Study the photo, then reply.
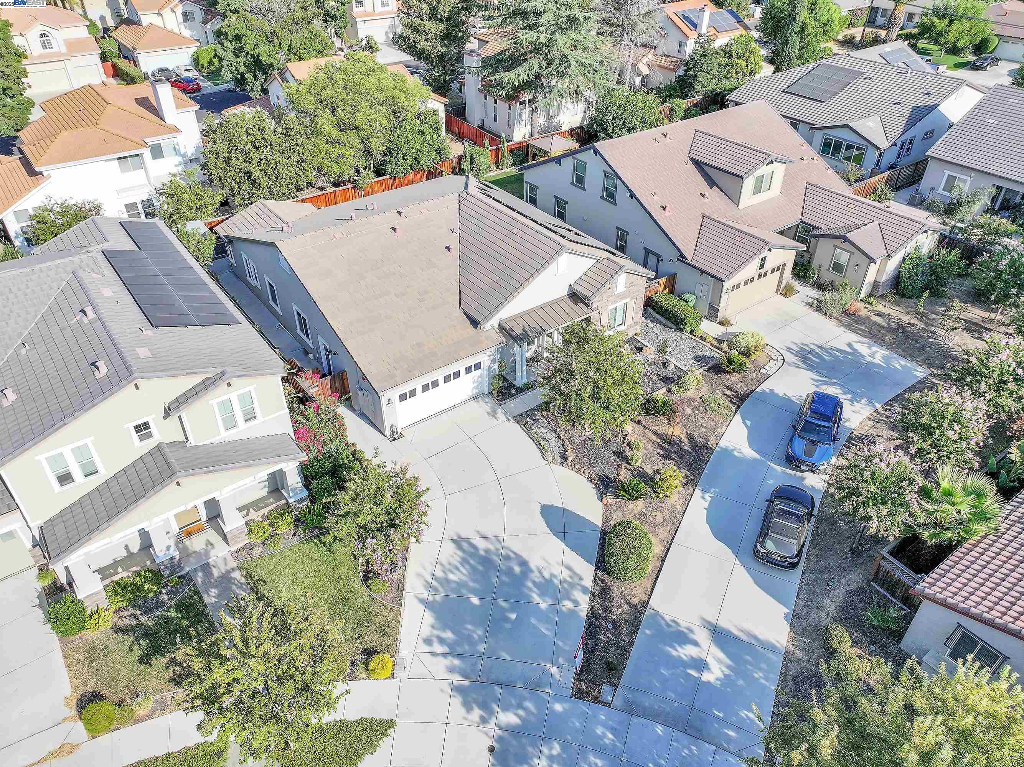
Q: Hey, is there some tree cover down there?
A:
Yes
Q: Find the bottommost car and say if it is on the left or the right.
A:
right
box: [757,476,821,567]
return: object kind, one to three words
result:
car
